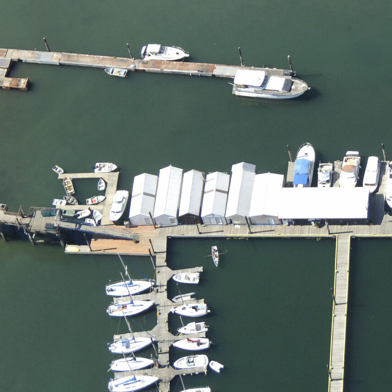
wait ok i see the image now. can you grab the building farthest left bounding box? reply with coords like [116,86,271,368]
[129,172,157,224]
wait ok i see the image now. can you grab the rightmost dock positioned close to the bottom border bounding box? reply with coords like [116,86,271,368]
[328,236,350,392]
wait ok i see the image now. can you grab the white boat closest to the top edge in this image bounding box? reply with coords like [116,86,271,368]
[142,42,189,60]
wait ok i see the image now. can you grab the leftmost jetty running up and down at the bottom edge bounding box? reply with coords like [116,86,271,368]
[156,237,170,392]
